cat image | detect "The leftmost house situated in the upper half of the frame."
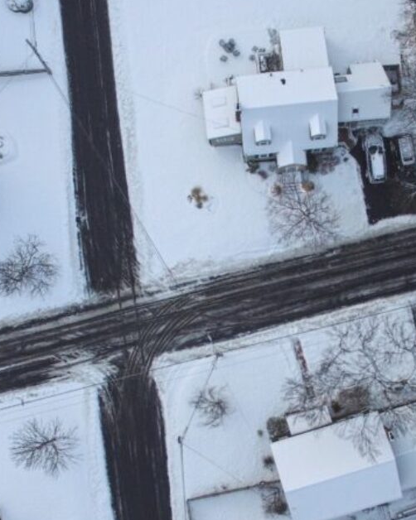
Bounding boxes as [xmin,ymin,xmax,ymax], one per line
[203,26,389,183]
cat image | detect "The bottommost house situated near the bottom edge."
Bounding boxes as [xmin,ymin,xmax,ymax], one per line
[270,402,416,520]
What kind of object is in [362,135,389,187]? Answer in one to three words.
car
